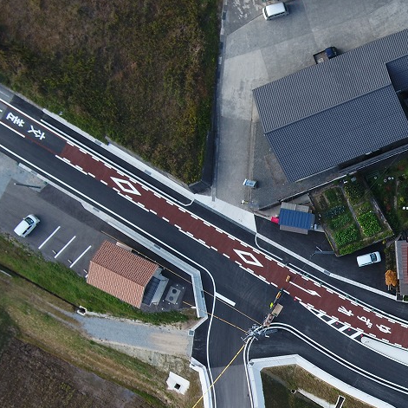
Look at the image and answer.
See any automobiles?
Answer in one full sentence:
Yes, looking at the shot, I can spot an automobile.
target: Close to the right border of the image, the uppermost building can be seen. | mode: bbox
[253,29,408,182]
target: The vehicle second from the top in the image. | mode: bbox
[310,42,338,64]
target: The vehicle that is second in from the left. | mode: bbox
[262,1,290,21]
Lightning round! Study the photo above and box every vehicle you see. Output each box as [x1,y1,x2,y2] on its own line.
[310,42,338,64]
[356,251,383,266]
[262,1,290,21]
[14,212,42,239]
